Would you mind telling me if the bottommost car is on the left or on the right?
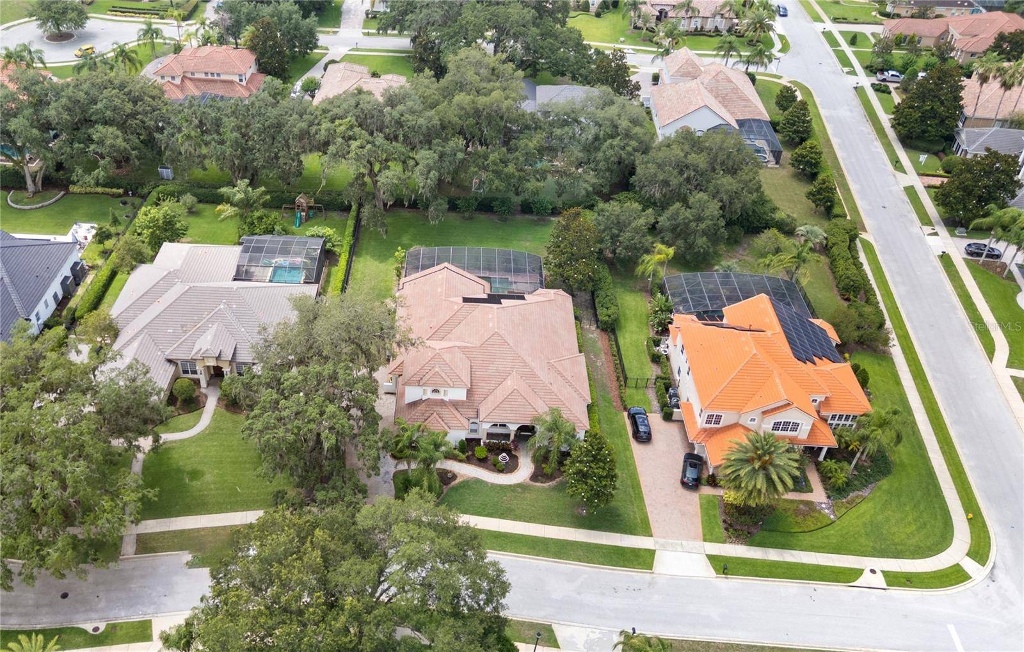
right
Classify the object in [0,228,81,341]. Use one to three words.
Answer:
house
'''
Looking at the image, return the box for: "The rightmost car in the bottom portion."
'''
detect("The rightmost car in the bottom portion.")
[681,452,706,491]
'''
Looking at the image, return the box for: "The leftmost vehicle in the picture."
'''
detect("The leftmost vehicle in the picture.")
[72,43,96,56]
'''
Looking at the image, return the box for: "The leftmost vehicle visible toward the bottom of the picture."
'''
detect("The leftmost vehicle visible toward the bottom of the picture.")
[625,405,658,442]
